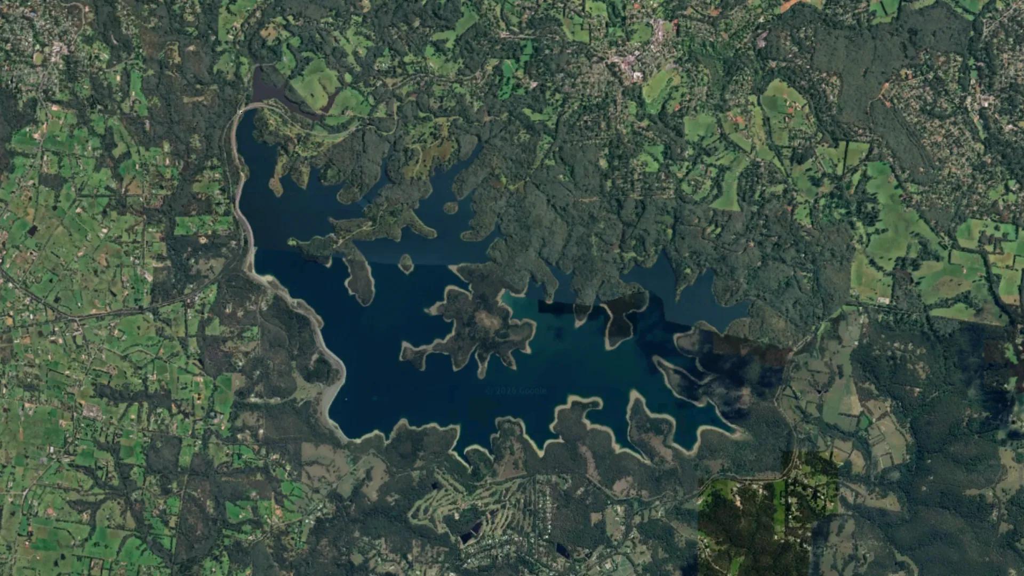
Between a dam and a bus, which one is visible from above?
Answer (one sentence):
There is a dam in the scene.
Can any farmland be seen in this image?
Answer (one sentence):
Yes, farmland can be seen from above here.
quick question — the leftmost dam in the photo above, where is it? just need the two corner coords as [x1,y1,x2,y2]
[232,104,255,266]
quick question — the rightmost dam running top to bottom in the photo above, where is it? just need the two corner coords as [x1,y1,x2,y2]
[285,296,348,443]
